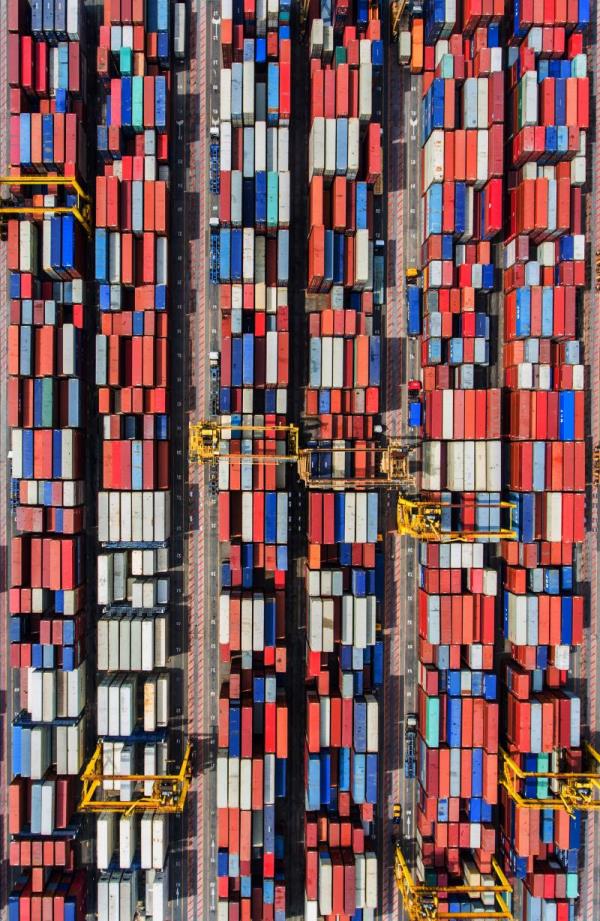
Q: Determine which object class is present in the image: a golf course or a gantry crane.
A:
gantry crane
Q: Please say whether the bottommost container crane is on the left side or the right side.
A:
right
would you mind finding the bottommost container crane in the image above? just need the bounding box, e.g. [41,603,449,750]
[391,833,516,921]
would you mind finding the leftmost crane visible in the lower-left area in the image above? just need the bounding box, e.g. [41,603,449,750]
[80,733,199,829]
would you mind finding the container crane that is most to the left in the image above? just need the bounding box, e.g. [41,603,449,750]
[0,177,97,247]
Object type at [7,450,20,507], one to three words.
vehicle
